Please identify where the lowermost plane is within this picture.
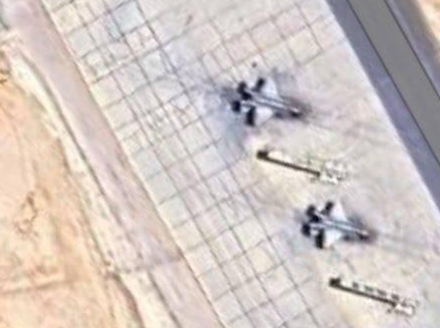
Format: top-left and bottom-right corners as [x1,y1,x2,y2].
[311,204,376,248]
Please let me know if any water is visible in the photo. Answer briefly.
No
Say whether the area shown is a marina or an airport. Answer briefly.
airport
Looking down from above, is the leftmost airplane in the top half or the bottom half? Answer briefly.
top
